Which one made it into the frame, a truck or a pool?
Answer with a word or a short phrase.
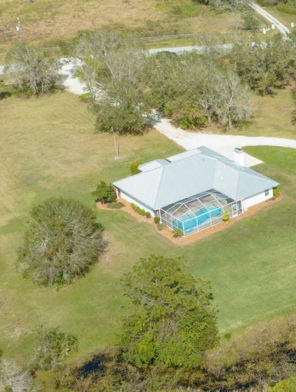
pool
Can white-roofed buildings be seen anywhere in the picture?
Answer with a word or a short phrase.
Yes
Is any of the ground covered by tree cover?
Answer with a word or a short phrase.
Yes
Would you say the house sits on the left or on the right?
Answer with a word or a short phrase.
right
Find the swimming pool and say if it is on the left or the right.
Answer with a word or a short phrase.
right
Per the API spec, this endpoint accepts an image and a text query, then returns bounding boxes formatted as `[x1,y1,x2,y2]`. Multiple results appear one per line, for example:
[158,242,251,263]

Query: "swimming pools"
[158,198,241,235]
